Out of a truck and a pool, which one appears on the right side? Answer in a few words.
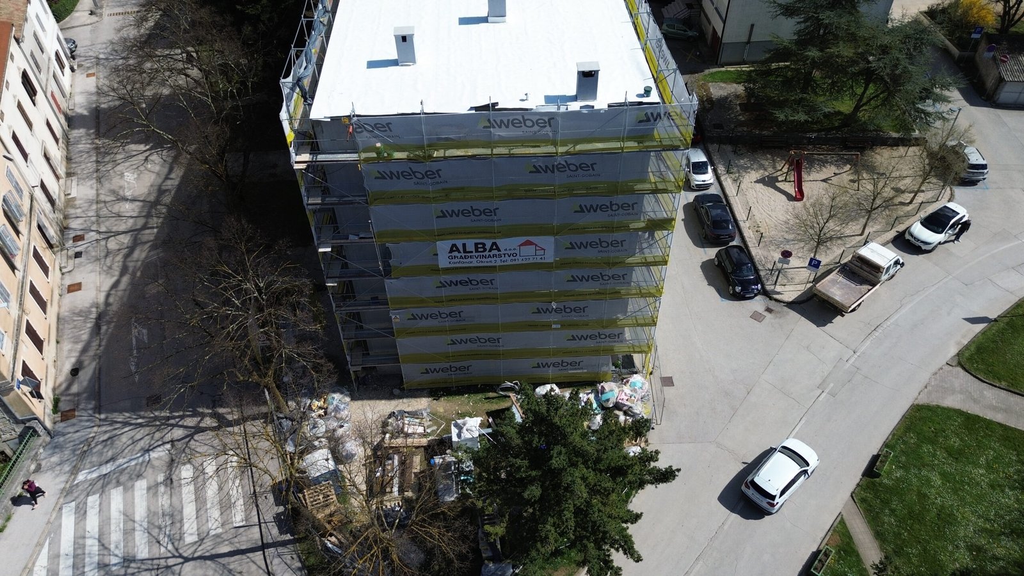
truck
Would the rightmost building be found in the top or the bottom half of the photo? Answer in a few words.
top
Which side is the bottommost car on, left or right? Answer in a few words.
right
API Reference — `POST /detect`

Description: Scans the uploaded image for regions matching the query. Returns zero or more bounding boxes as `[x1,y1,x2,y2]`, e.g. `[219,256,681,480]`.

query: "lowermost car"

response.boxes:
[742,432,825,514]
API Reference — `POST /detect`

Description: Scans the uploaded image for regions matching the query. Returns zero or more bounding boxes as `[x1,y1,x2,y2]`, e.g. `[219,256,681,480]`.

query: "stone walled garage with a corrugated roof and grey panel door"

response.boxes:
[971,30,1024,104]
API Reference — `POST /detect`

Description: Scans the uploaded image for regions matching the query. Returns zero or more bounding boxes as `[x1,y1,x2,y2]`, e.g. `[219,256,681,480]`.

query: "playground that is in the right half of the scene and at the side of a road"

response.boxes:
[691,127,959,302]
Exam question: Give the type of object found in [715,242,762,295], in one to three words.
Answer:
car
